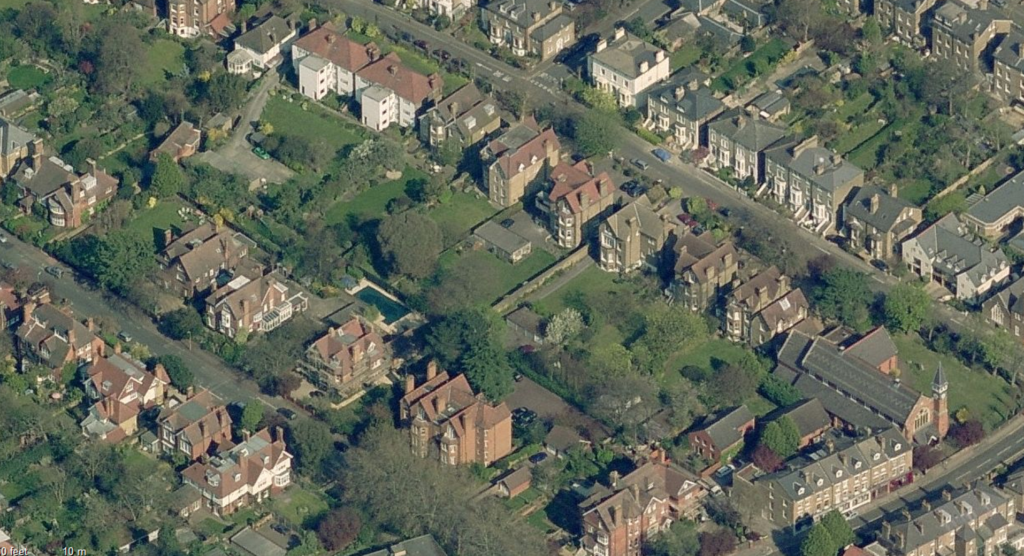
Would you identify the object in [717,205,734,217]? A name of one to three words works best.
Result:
vehicle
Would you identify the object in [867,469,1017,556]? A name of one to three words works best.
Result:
house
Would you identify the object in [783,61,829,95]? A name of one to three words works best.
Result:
greenhouse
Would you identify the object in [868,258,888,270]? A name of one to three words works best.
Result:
vehicle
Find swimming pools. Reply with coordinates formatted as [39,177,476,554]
[350,284,416,328]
